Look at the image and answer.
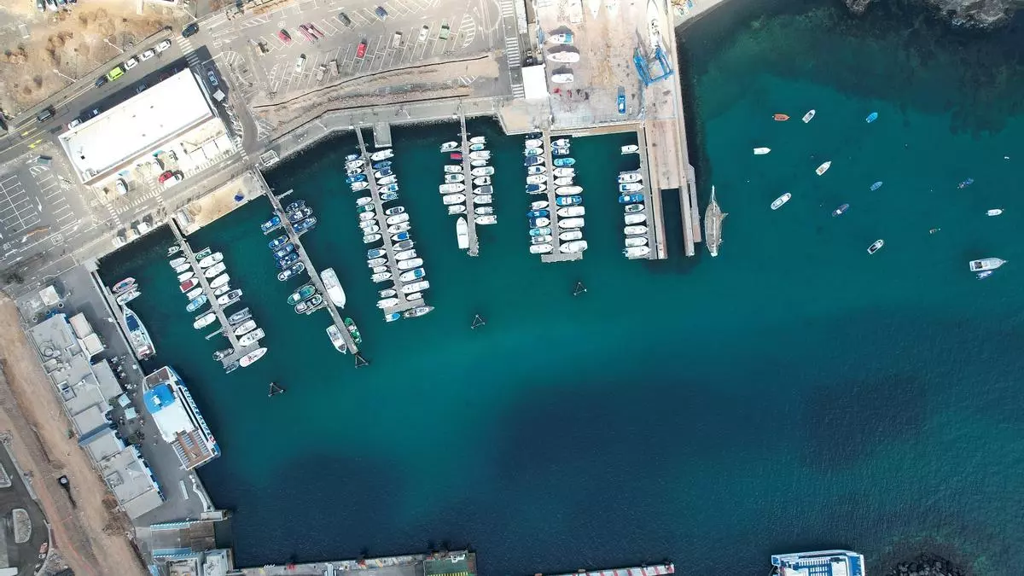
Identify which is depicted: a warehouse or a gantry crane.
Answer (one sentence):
Of the two, only a warehouse appears.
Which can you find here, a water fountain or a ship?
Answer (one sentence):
Looking from above, you can make out a ship.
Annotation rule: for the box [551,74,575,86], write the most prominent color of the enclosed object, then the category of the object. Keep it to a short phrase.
white boat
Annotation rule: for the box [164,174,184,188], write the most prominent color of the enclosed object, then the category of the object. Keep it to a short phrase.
white vehicle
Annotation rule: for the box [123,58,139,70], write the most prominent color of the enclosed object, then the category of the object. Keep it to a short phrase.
white vehicle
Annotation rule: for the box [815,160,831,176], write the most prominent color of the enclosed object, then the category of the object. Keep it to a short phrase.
white boat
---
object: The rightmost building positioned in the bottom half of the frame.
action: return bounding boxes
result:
[202,542,236,576]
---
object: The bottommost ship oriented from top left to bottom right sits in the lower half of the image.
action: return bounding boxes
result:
[142,365,223,465]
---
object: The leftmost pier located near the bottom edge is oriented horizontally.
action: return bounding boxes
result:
[236,546,476,576]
